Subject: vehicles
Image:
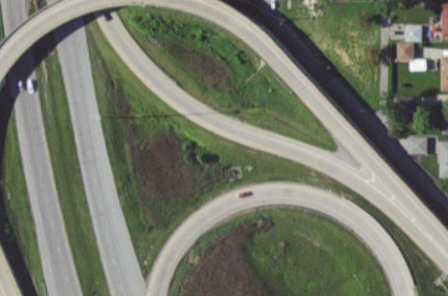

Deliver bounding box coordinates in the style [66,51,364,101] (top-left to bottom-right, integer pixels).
[17,80,24,92]
[392,30,404,36]
[26,78,34,94]
[441,50,448,56]
[236,191,252,199]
